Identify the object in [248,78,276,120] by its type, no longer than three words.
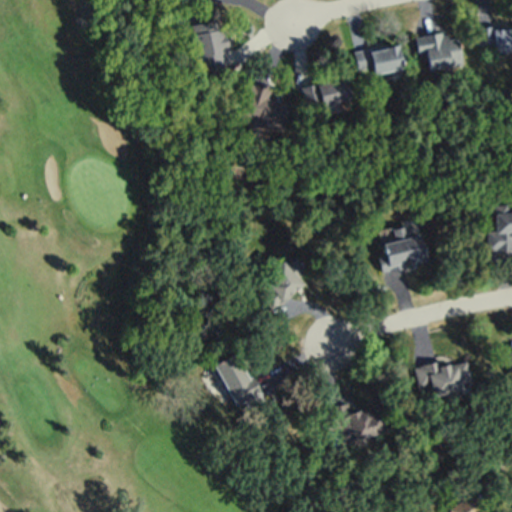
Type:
house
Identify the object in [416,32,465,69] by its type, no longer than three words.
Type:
house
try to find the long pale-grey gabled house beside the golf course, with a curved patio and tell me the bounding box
[214,361,266,411]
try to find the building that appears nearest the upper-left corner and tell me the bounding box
[192,20,232,64]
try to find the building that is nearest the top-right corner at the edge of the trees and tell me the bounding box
[480,27,512,56]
